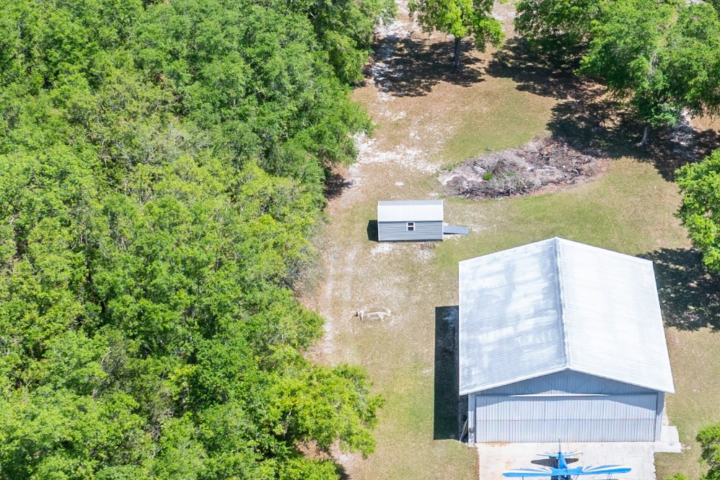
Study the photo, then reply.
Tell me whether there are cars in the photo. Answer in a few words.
No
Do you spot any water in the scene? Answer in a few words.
No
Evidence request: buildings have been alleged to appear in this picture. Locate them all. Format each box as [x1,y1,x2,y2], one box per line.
[458,237,674,443]
[377,202,468,240]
